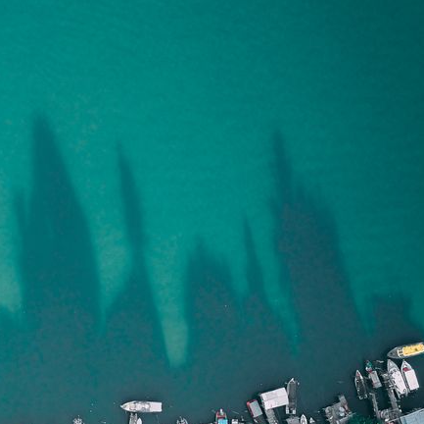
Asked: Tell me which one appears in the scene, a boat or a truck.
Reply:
boat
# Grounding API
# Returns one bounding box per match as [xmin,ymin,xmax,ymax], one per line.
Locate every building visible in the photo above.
[395,408,424,424]
[256,387,289,411]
